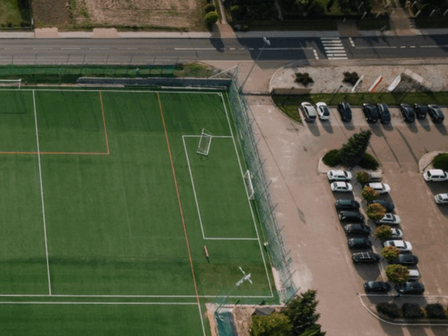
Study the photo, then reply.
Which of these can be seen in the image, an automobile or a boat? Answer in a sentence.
Looking from above, you can make out an automobile.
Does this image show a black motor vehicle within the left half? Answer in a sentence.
No, within the left half there is no black motor vehicle.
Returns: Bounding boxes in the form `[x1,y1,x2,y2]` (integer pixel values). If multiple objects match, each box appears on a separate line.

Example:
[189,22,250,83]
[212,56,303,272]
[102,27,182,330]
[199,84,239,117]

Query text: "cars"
[364,181,391,194]
[393,282,424,294]
[380,200,397,212]
[344,224,370,235]
[427,105,445,125]
[377,213,402,226]
[399,104,416,124]
[361,104,379,124]
[412,103,428,122]
[350,251,380,264]
[315,103,331,121]
[434,193,448,205]
[376,104,392,125]
[394,255,420,265]
[364,171,387,182]
[338,210,364,223]
[383,240,412,253]
[325,169,352,181]
[301,104,316,122]
[422,169,448,181]
[337,104,353,122]
[363,280,390,293]
[346,237,372,249]
[329,181,353,193]
[392,228,406,239]
[333,199,360,211]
